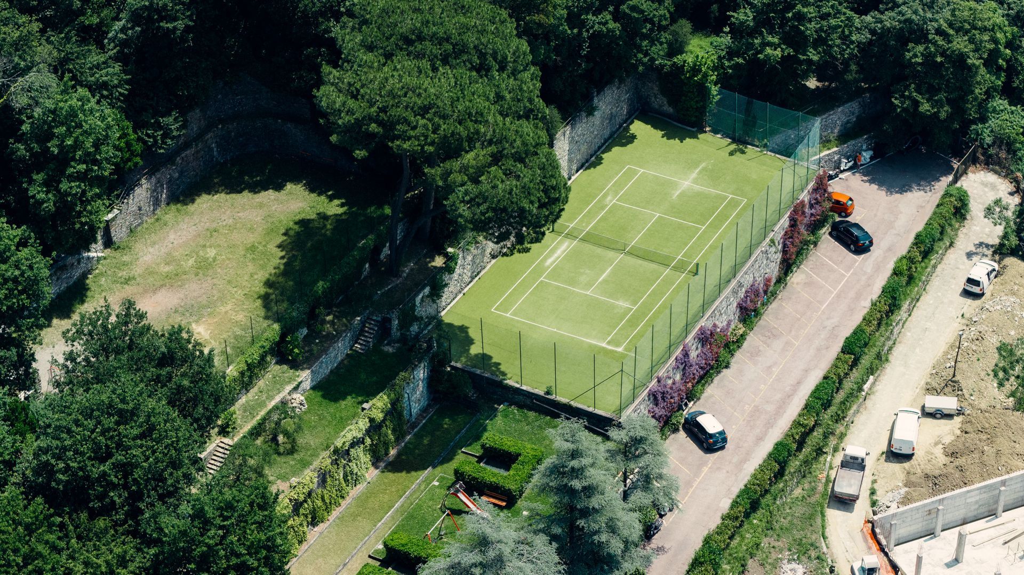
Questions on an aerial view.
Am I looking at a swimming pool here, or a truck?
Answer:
truck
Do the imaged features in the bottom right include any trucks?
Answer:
Yes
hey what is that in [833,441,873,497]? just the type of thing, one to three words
truck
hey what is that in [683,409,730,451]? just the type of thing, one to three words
car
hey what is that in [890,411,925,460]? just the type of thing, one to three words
van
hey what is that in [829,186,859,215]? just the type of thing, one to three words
car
